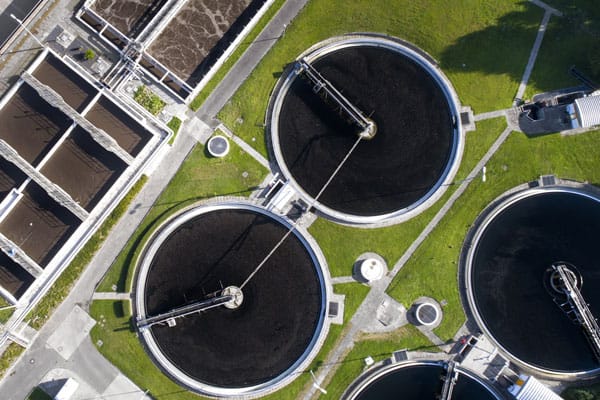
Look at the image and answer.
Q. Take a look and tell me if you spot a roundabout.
No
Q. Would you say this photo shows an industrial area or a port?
industrial area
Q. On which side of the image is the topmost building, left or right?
right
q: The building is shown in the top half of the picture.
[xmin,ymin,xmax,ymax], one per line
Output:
[568,95,600,129]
